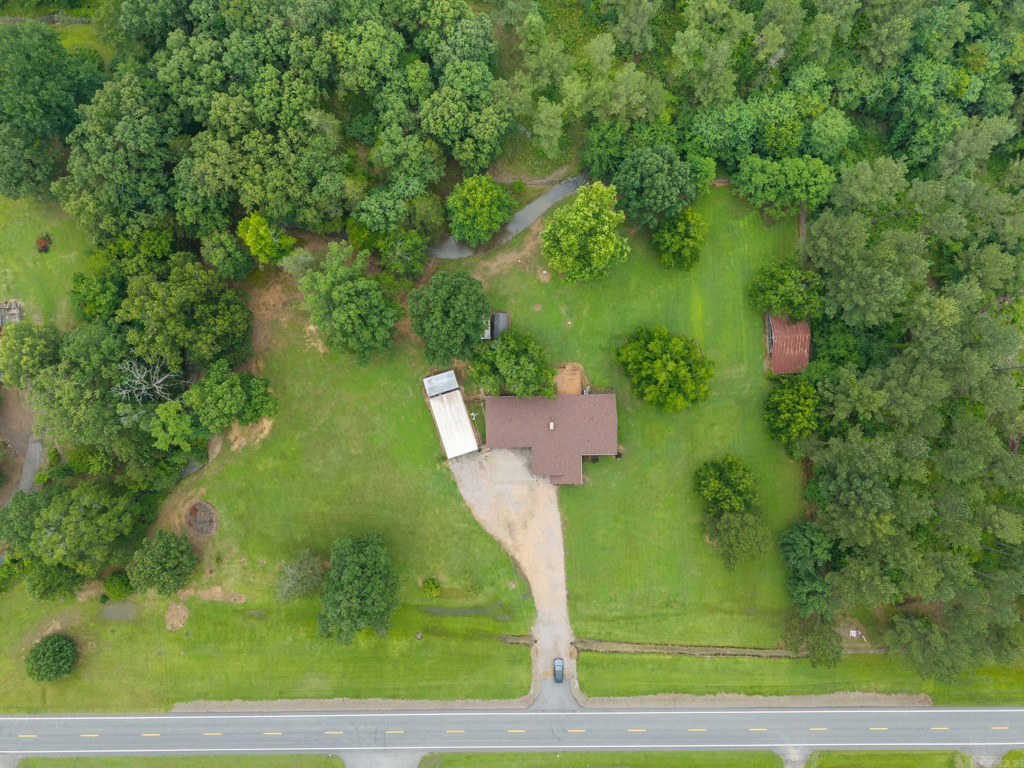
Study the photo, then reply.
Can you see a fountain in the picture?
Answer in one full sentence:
No, no fountain is visible in the view.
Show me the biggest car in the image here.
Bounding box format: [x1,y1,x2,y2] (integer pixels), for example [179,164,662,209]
[553,660,565,685]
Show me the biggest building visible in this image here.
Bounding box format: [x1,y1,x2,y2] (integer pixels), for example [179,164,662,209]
[485,393,617,484]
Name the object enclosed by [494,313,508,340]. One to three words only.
shed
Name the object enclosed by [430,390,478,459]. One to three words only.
building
